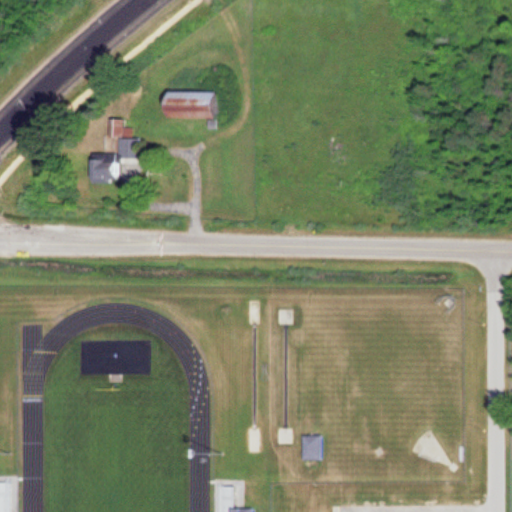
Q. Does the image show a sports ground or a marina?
sports ground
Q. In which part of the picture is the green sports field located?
bottom left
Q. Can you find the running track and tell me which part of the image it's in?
bottom left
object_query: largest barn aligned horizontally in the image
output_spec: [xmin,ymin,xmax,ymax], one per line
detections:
[160,91,218,119]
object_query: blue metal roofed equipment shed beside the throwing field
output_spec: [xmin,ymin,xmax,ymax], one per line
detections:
[302,435,326,460]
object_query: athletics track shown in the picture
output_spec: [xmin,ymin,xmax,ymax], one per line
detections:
[23,303,210,512]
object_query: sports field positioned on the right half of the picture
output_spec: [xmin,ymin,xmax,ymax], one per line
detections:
[272,289,462,481]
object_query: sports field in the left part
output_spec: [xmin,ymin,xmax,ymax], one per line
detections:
[44,324,189,512]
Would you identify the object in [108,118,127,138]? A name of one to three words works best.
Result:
shed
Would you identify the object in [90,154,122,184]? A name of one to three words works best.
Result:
house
